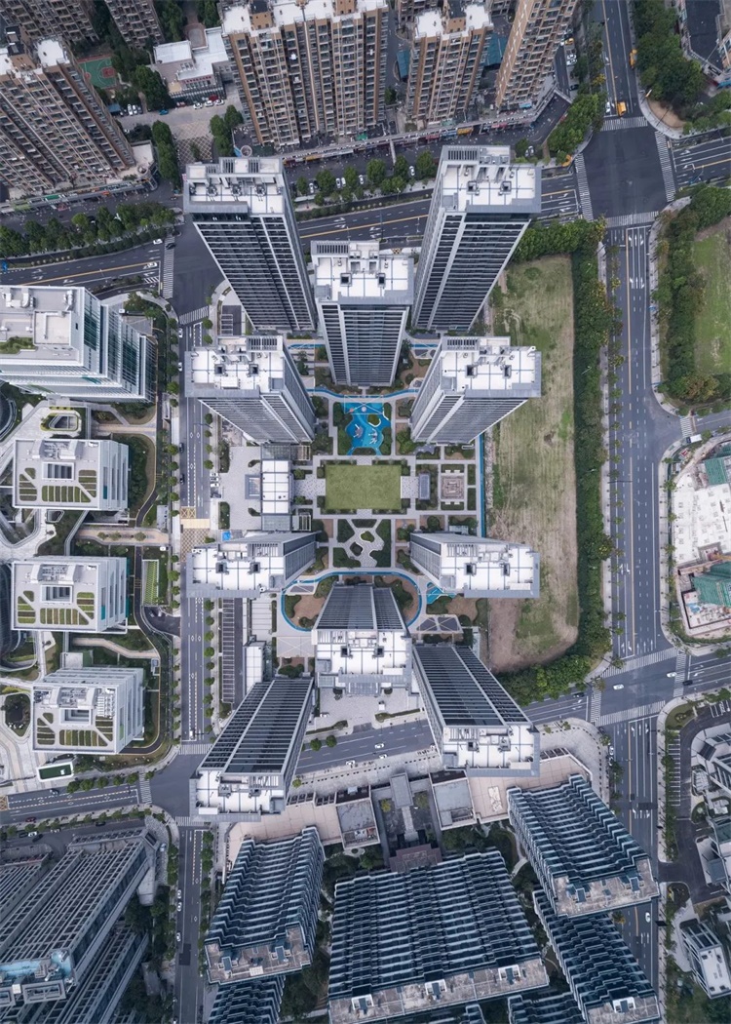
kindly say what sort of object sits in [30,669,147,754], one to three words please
building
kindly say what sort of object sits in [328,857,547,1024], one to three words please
building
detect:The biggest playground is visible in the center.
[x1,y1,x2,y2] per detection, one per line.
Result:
[344,400,390,459]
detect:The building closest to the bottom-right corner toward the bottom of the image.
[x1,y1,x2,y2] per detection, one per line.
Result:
[681,919,731,999]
